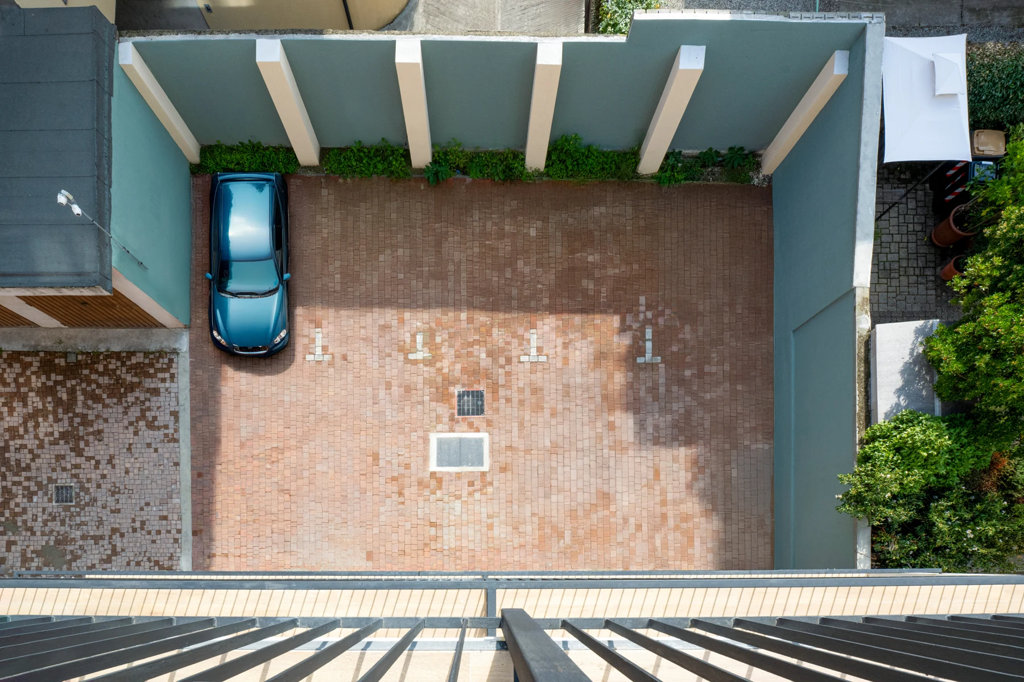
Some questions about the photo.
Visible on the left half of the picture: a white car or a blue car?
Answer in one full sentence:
Looking on the left half of the picture, you will find a blue car.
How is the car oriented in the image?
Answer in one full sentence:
What the image shows is the car lying vertically.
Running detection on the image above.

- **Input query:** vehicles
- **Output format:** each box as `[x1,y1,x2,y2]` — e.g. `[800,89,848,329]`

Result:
[202,172,291,363]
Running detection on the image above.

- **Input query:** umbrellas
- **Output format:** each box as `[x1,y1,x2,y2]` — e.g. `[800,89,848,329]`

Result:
[873,34,971,233]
